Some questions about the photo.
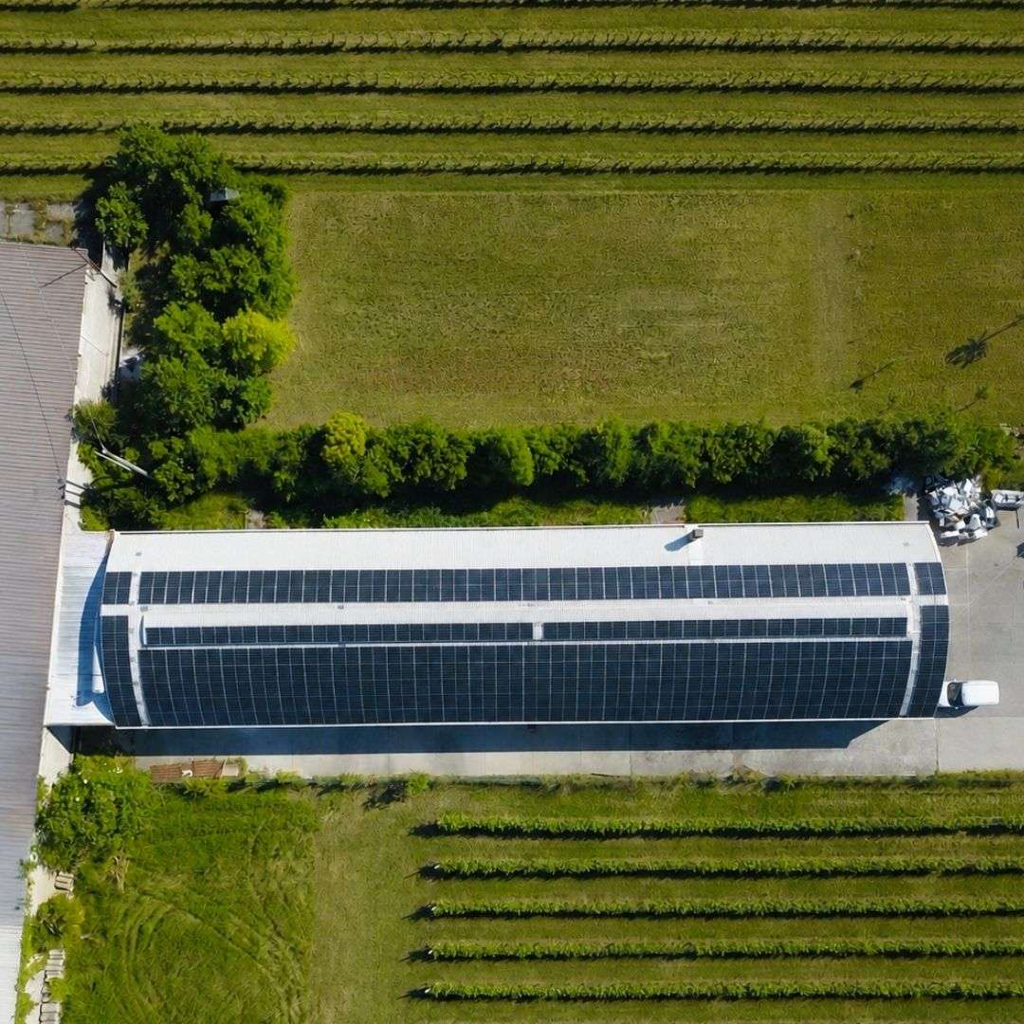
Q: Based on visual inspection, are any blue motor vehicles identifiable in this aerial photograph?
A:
No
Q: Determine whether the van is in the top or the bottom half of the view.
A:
bottom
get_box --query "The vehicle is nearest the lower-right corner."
[938,675,997,711]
